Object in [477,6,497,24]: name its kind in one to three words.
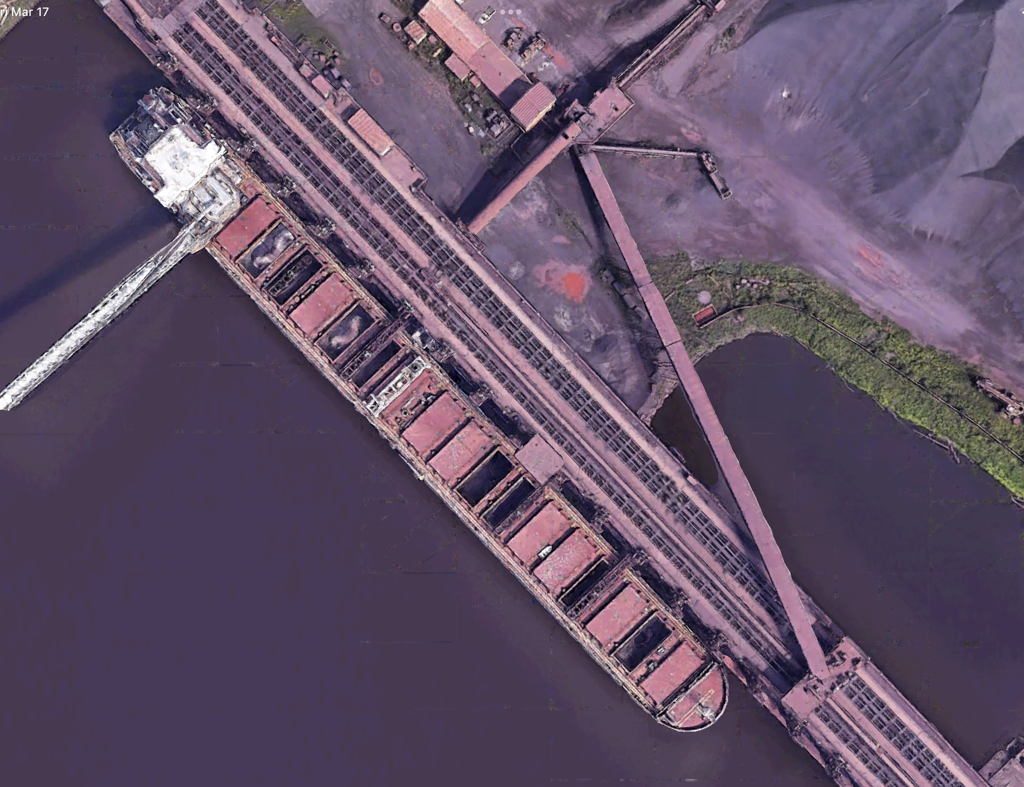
vehicle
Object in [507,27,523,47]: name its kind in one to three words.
work vehicle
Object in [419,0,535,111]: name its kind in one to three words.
building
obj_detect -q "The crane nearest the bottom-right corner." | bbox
[972,377,1024,418]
